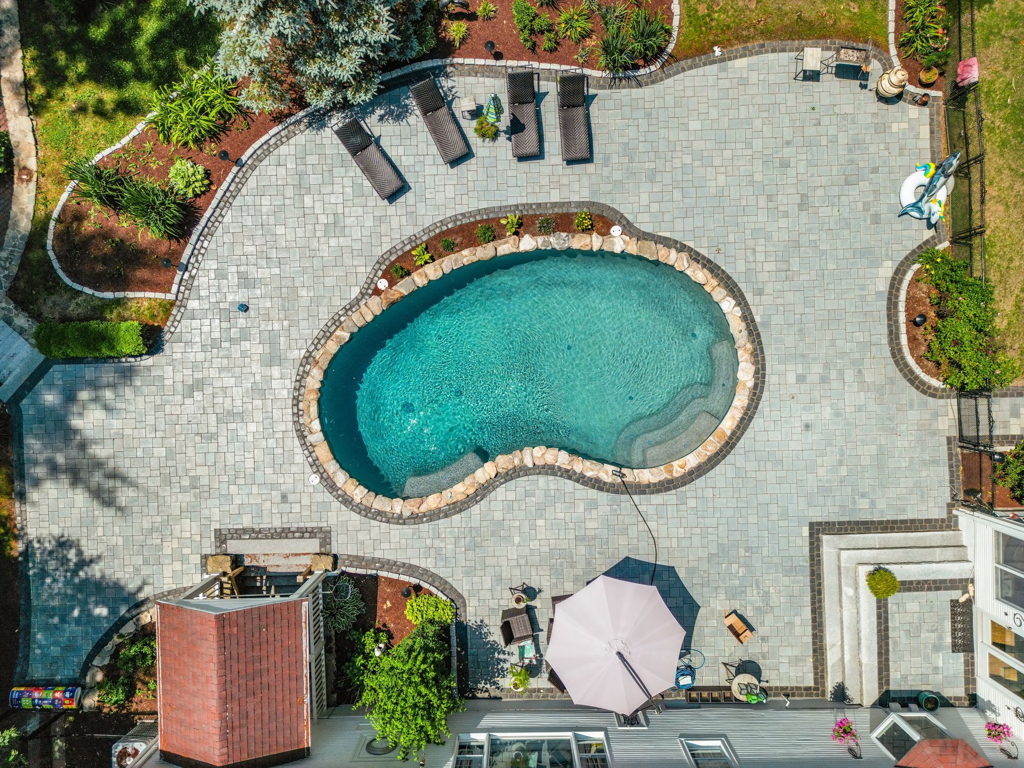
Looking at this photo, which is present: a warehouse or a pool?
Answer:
pool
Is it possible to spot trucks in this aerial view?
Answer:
No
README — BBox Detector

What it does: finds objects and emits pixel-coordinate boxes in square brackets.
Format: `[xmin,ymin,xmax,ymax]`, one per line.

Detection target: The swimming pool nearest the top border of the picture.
[301,230,756,516]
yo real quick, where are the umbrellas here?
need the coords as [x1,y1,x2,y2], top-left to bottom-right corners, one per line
[543,573,688,717]
[474,93,503,132]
